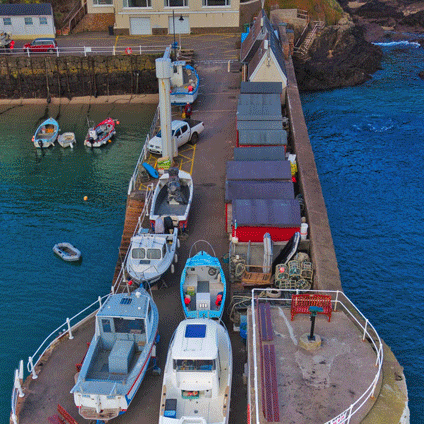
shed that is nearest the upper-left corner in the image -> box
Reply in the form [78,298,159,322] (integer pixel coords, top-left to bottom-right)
[0,1,63,36]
